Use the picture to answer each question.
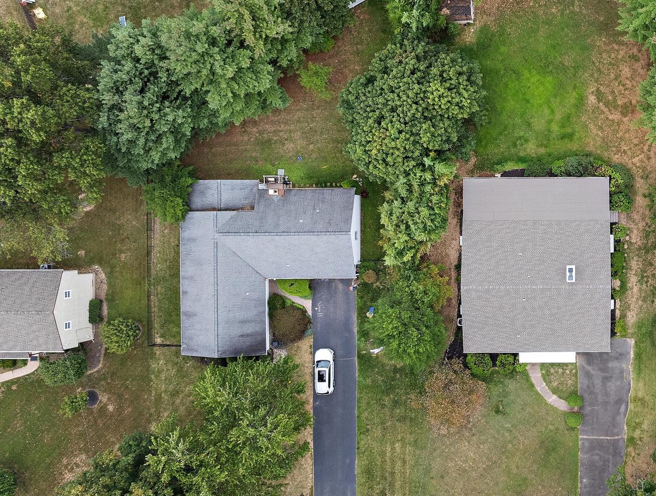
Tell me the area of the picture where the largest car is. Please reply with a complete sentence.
Look in the bottom portion of the view to spot the largest car.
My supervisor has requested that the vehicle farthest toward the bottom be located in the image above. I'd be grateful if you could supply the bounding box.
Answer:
[312,348,335,394]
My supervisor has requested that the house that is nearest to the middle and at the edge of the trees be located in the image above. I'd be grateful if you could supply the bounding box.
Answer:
[179,179,360,358]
